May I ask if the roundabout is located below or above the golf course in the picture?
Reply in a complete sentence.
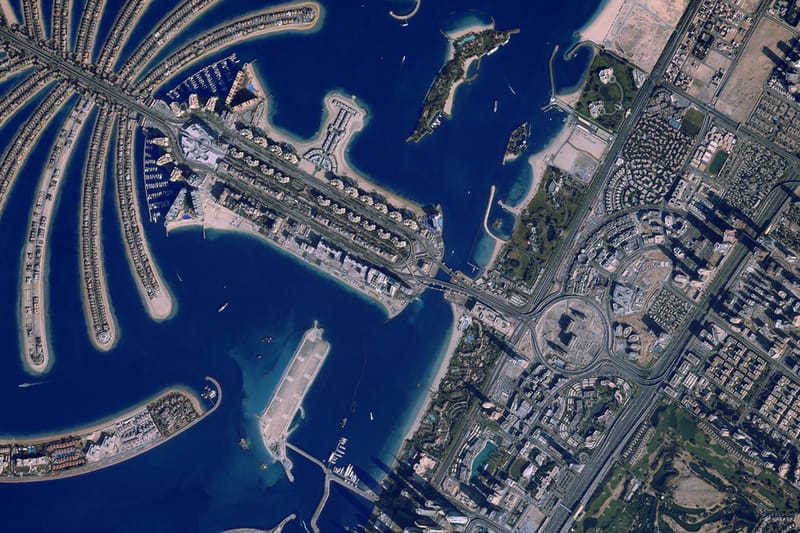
Looking at the scene, the roundabout is located above the golf course.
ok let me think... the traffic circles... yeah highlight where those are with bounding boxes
[530,293,616,377]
